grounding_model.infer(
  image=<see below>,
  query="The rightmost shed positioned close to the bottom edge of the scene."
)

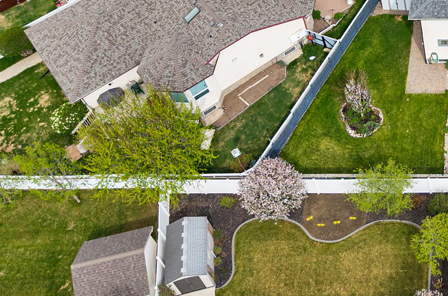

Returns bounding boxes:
[163,215,213,294]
